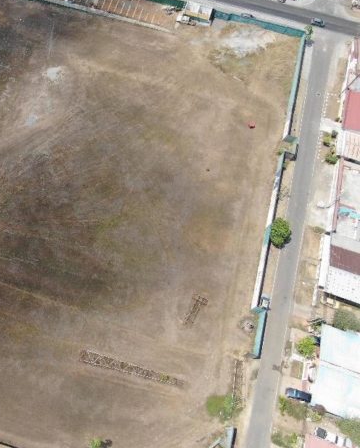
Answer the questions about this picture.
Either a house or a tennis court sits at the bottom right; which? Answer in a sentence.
You can see a house at the bottom right.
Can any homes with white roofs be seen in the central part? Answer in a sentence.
No, no home with a white roof can be made out in the central part.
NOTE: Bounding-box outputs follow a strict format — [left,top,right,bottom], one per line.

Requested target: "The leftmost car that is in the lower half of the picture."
[259,293,273,311]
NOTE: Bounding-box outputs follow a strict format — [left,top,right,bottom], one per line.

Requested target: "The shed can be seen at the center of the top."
[183,2,213,26]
